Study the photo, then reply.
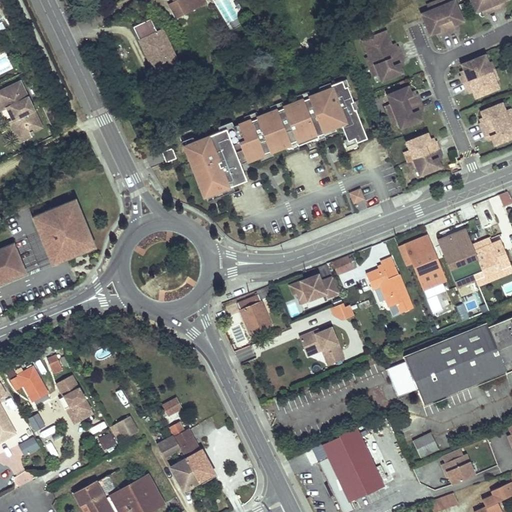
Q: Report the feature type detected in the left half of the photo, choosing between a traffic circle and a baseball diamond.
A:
traffic circle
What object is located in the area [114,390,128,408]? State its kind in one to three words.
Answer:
vehicle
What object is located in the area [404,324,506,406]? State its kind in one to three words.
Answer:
building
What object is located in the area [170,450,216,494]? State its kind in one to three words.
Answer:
house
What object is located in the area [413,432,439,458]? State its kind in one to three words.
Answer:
shed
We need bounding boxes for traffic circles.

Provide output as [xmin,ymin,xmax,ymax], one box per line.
[110,212,219,322]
